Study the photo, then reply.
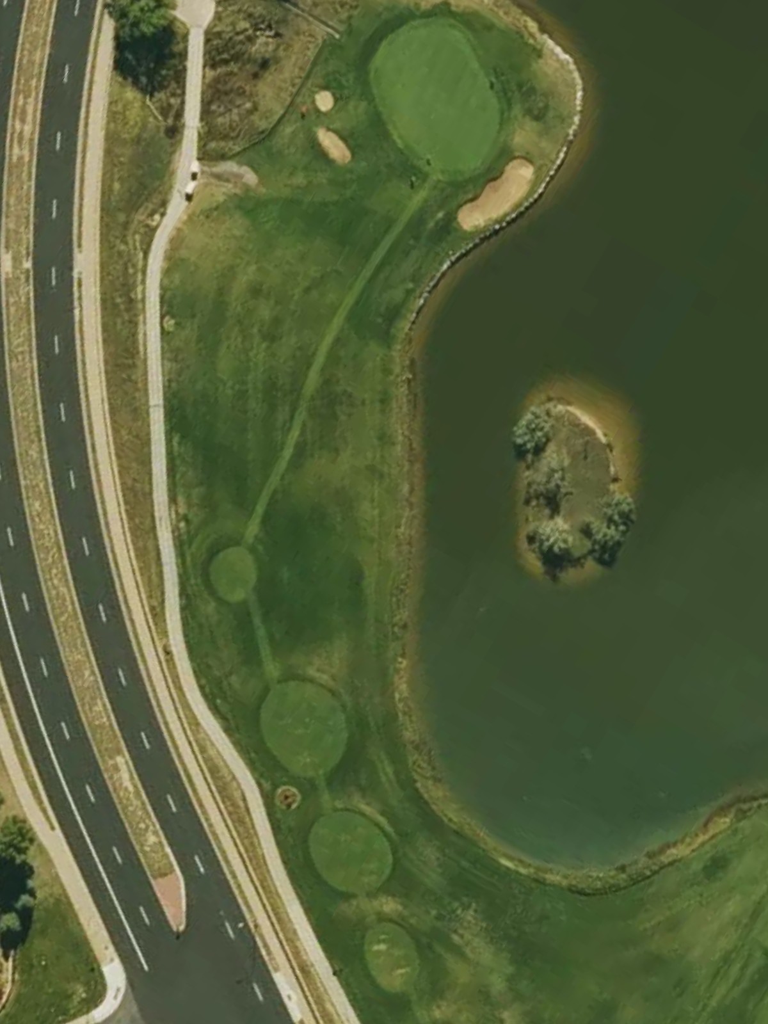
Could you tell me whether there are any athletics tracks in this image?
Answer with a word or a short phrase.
No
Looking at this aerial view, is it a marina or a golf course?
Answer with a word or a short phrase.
golf course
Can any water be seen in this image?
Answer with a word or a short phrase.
Yes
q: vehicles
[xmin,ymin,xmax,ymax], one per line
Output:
[185,179,196,193]
[190,159,198,173]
